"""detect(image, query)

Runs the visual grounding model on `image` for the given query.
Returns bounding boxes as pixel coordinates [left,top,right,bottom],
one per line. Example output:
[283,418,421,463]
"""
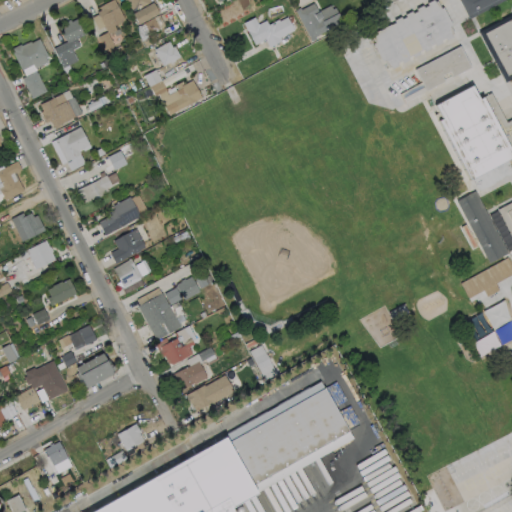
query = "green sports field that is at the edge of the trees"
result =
[144,36,512,502]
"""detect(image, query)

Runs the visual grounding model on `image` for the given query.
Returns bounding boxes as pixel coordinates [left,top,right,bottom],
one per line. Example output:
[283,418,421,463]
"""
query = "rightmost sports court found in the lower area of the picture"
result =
[424,431,512,512]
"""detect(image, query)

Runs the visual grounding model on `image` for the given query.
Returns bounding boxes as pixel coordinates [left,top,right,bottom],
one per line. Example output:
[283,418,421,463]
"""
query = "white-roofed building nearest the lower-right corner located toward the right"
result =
[476,332,502,356]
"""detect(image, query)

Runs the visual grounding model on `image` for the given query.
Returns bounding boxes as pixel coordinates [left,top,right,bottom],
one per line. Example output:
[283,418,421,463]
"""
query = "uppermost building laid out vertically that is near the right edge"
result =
[481,12,512,78]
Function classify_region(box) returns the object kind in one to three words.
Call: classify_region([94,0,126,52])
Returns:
house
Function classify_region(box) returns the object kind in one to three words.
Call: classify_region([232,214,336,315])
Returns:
baseball field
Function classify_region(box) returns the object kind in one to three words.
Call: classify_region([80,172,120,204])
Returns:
house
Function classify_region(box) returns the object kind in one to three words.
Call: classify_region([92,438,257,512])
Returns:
building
